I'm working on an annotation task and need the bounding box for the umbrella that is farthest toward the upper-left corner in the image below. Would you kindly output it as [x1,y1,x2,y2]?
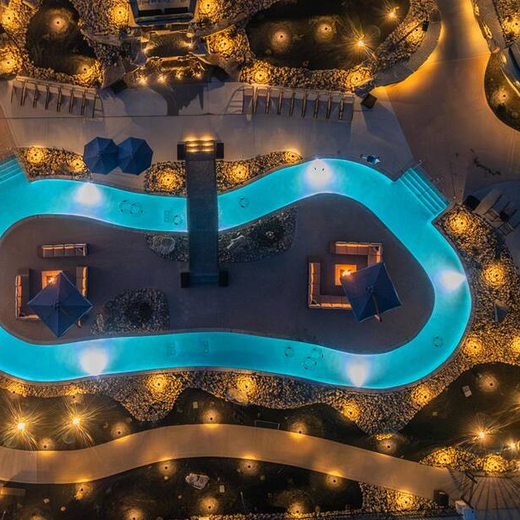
[81,136,118,178]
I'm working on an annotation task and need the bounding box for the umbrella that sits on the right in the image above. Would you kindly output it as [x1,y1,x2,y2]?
[342,263,402,331]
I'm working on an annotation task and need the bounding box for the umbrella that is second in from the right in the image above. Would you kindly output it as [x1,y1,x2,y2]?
[115,134,158,177]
